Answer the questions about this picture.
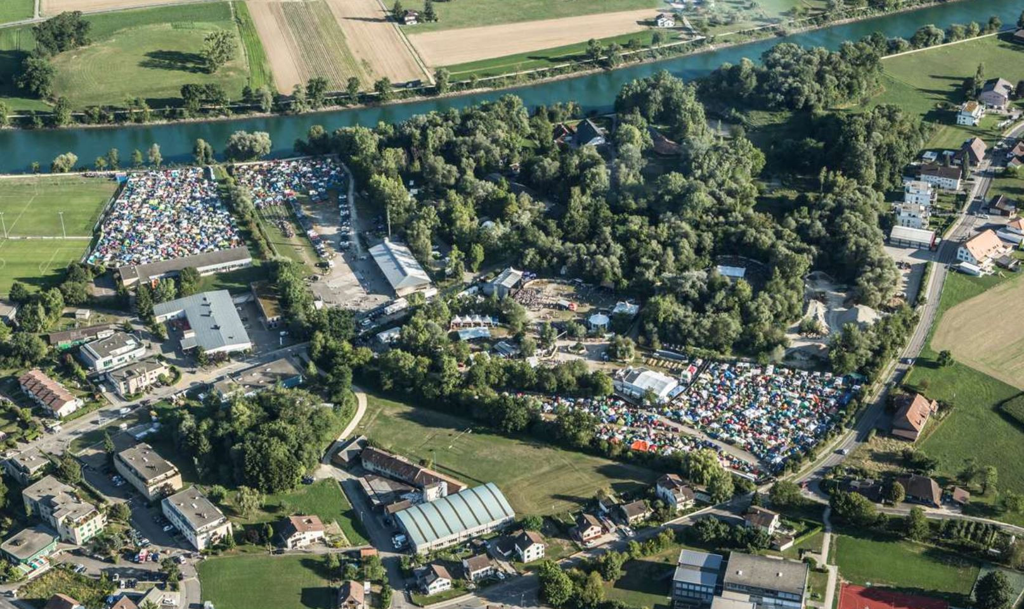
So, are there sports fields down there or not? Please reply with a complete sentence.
Yes, you can see a sports field in this photo.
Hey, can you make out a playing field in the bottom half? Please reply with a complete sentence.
Yes, I can see a playing field in the bottom half.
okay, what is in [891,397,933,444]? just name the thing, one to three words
barn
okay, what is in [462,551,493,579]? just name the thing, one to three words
house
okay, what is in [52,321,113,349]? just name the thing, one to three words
shed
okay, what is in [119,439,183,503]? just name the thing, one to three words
building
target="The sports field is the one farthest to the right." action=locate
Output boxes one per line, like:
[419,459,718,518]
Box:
[836,533,981,598]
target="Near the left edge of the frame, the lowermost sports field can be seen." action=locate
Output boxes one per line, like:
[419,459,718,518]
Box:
[0,238,92,299]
